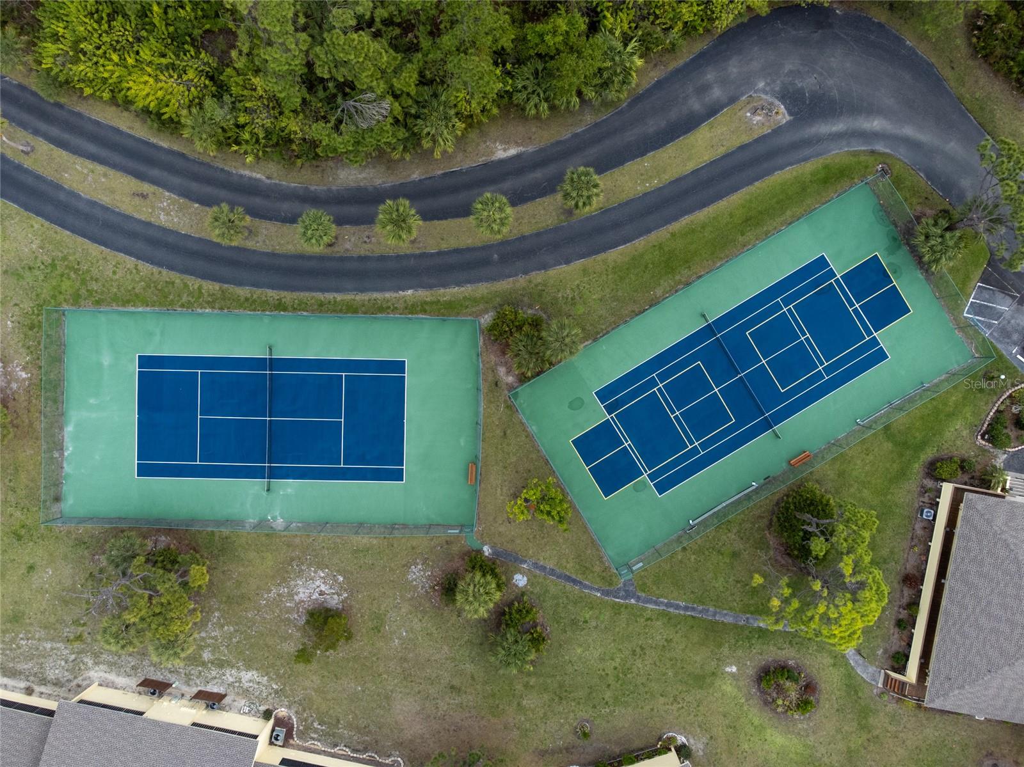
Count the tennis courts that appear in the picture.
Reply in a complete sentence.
There are 2 tennis courts in the image.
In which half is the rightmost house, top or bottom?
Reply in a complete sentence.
The rightmost house sits in the bottom half of the picture.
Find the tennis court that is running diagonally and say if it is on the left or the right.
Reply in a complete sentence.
You can find the tennis court that is running diagonally on the right side of the picture.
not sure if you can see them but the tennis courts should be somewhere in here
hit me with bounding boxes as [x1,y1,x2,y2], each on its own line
[511,182,973,571]
[62,311,483,525]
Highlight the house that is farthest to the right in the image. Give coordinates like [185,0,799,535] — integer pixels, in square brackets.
[879,469,1024,724]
